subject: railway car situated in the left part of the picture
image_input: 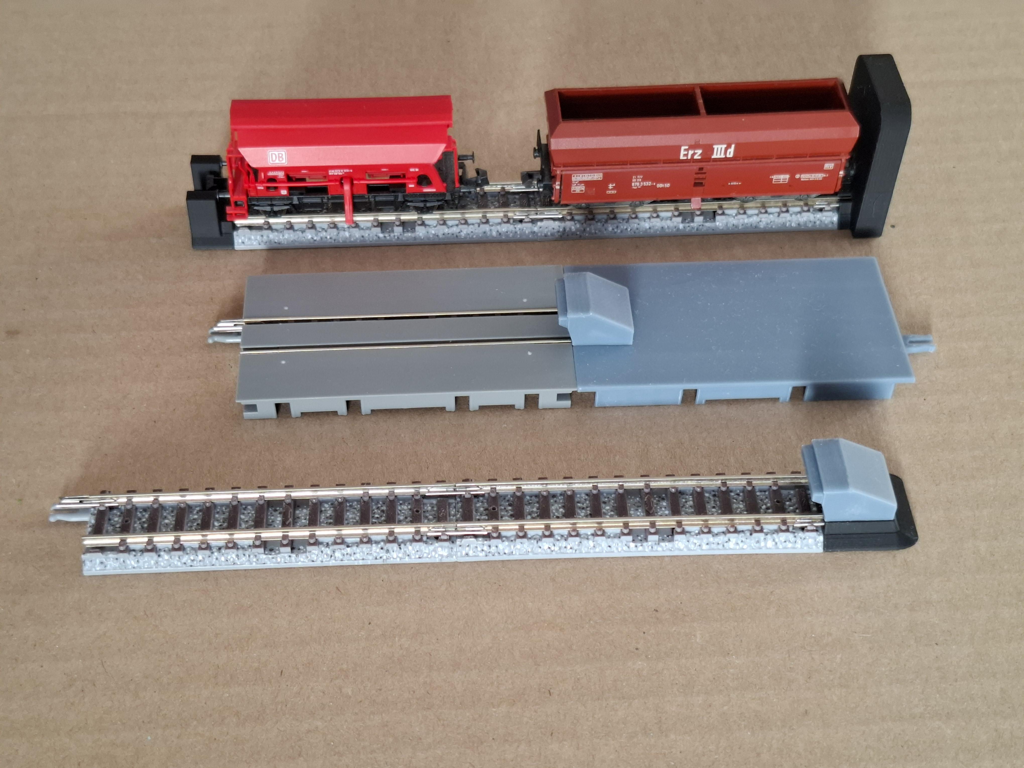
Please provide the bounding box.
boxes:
[207,92,485,225]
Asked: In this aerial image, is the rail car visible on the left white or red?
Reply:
red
